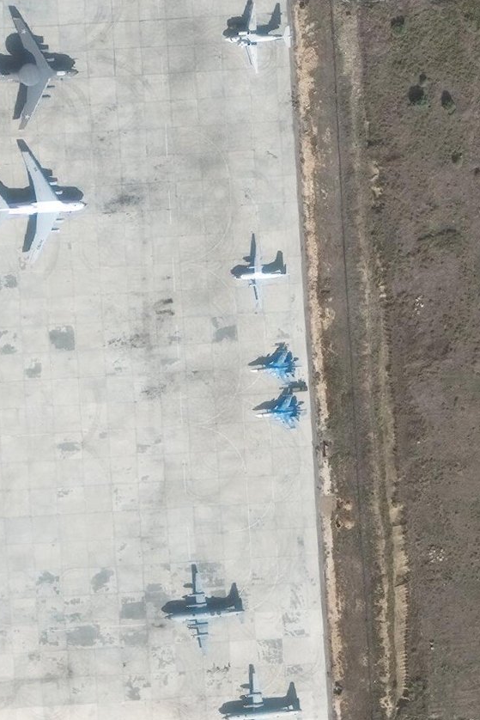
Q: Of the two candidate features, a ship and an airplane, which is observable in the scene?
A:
airplane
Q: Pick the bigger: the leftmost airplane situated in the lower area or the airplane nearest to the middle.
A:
the leftmost airplane situated in the lower area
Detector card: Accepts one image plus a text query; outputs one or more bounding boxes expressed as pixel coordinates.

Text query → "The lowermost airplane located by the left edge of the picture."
[0,153,88,264]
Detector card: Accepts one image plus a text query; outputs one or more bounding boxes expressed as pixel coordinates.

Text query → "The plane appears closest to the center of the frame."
[251,350,300,384]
